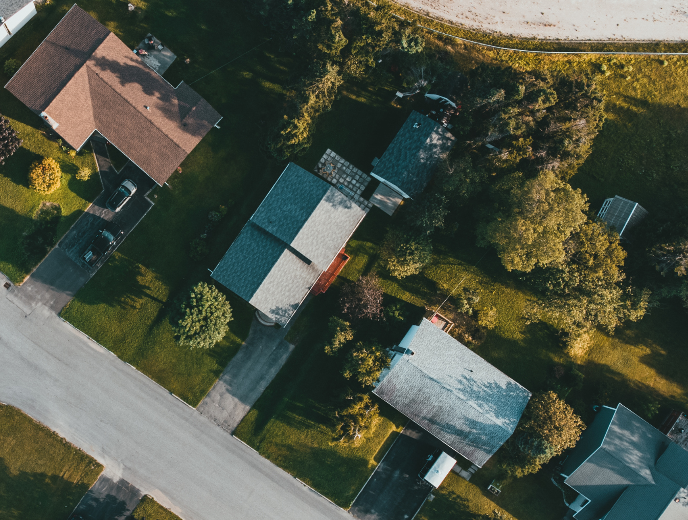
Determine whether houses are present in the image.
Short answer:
Yes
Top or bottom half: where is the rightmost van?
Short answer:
bottom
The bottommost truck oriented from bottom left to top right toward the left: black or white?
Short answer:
black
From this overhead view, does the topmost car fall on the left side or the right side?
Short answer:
left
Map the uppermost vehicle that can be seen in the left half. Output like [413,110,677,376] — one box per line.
[104,176,138,215]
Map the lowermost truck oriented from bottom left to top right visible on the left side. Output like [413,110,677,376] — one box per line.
[78,220,123,270]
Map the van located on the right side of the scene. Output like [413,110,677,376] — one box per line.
[421,443,459,492]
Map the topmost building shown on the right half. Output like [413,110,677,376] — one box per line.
[369,110,458,201]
